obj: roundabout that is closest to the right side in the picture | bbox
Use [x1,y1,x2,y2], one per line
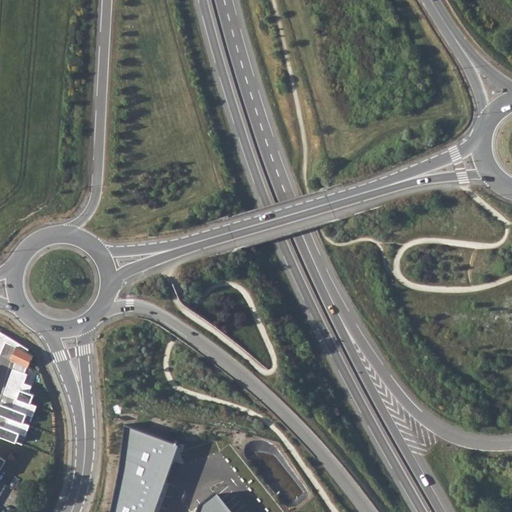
[472,90,512,202]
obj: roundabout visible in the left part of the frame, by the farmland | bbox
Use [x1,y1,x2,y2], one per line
[0,224,119,339]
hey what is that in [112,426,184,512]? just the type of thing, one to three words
building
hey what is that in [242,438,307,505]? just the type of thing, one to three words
pond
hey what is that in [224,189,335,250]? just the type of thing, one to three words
overpass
